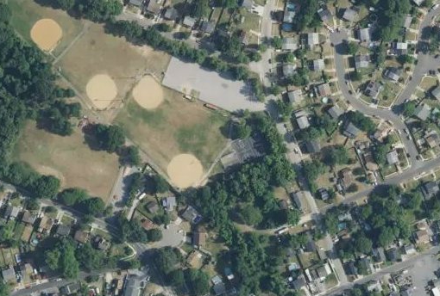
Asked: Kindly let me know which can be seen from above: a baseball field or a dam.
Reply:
baseball field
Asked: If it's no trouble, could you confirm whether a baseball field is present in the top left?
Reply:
Yes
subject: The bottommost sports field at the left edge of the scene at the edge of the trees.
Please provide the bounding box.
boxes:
[17,127,118,199]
